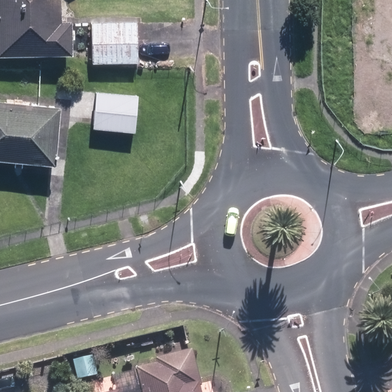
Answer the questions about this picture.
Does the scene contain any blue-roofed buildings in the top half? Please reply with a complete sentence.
No, no blue-roofed building is visible in the top half.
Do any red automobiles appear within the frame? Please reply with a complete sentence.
No, there appears to be no red automobile in this shot.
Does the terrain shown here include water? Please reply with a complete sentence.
No, no water is visible.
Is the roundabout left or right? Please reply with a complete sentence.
You can find the roundabout on the right side of the picture.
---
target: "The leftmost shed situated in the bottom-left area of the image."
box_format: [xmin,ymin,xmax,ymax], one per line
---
[72,354,98,376]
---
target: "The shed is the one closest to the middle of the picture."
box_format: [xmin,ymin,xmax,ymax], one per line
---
[92,92,140,134]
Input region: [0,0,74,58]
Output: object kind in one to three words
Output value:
house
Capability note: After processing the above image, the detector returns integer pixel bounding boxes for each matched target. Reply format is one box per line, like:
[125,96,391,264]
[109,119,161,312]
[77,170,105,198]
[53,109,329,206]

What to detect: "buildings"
[91,22,139,66]
[0,0,74,58]
[136,348,204,392]
[0,102,62,168]
[92,92,140,134]
[72,354,98,376]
